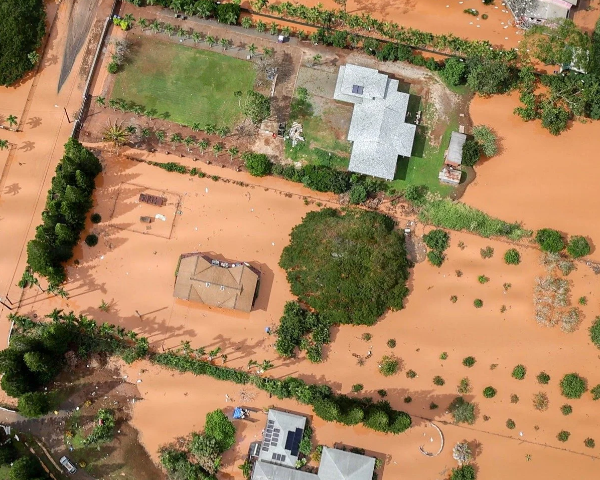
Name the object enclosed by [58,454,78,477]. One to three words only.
car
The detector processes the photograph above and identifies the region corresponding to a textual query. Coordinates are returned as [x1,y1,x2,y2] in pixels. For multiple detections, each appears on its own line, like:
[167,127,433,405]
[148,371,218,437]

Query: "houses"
[252,409,376,480]
[525,0,577,22]
[174,252,260,313]
[334,63,416,183]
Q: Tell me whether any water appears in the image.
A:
Yes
